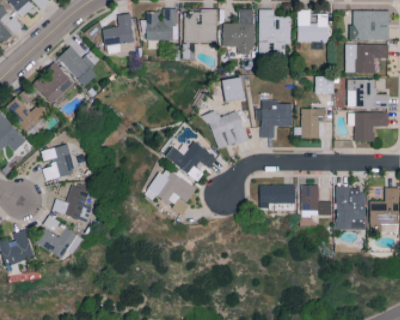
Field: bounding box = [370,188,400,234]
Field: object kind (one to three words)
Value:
house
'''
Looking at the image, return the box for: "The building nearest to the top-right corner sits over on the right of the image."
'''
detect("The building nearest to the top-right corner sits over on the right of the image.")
[349,11,390,41]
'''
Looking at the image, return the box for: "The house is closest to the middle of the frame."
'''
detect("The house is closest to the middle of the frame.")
[167,141,218,182]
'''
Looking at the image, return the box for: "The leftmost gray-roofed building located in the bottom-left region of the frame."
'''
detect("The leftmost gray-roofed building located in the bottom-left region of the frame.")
[0,229,34,266]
